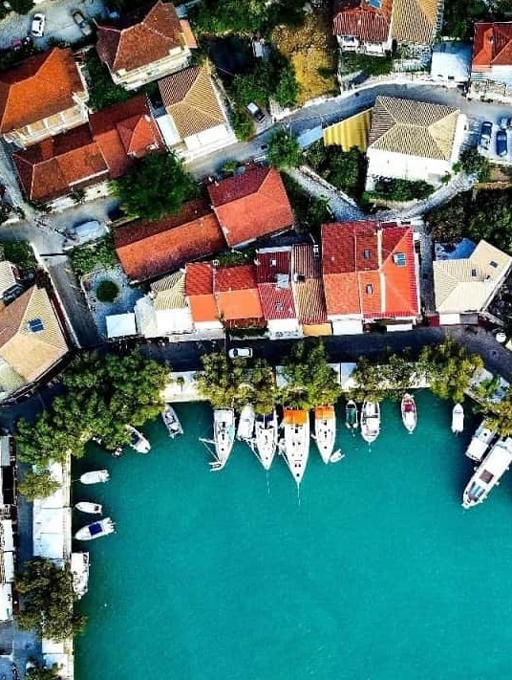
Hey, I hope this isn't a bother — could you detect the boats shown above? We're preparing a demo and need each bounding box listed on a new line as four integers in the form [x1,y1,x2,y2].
[75,501,104,515]
[330,450,343,463]
[72,469,112,485]
[451,399,465,436]
[196,402,234,470]
[345,393,358,432]
[206,462,218,470]
[312,405,337,464]
[360,401,381,446]
[74,517,117,546]
[73,551,90,599]
[277,435,284,451]
[462,435,512,512]
[122,422,150,452]
[163,407,183,438]
[275,407,311,486]
[465,421,495,459]
[245,409,279,477]
[236,406,254,441]
[401,393,417,436]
